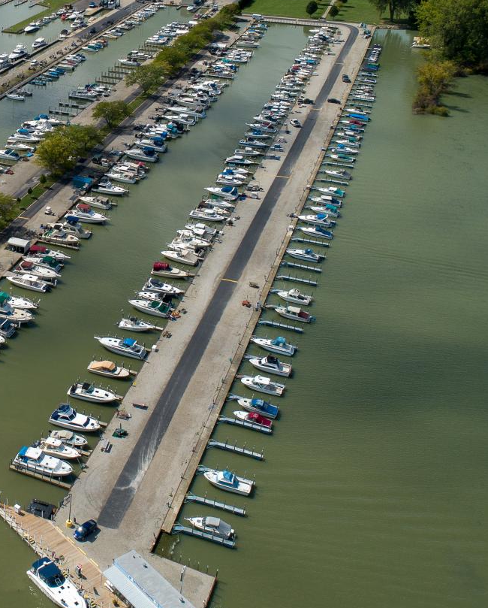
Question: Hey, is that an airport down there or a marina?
marina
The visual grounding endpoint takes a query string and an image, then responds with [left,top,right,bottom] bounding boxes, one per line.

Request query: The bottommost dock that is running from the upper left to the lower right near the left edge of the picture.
[0,505,118,608]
